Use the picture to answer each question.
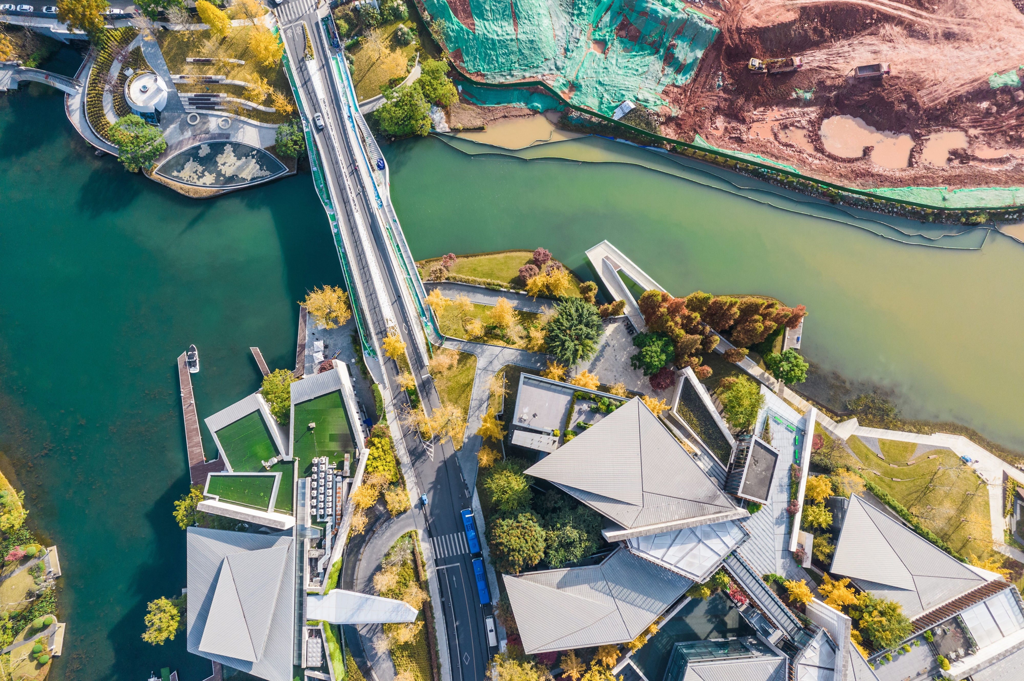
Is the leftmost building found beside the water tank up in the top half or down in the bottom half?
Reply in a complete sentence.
You can find the leftmost building found beside the water tank in the bottom half.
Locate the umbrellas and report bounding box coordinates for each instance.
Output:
[313,351,324,363]
[313,340,325,352]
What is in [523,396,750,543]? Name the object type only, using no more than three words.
building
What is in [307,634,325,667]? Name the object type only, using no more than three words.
water tank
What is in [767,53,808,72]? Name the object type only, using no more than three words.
vehicle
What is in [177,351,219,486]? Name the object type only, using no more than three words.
pier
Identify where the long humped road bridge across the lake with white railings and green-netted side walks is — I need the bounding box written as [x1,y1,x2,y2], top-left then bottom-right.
[274,0,440,389]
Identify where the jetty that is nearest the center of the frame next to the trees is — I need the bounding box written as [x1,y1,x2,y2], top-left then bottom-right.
[584,239,673,325]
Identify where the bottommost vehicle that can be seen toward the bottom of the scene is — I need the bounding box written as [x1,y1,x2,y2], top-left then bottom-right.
[484,612,498,647]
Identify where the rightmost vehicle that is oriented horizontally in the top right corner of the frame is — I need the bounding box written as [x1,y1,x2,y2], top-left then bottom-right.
[856,59,898,78]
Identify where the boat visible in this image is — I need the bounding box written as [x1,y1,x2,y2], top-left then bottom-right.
[186,345,199,373]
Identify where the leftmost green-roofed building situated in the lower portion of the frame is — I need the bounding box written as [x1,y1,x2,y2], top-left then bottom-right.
[196,392,298,530]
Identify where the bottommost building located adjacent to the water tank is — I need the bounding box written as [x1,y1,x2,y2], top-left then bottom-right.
[182,524,312,681]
